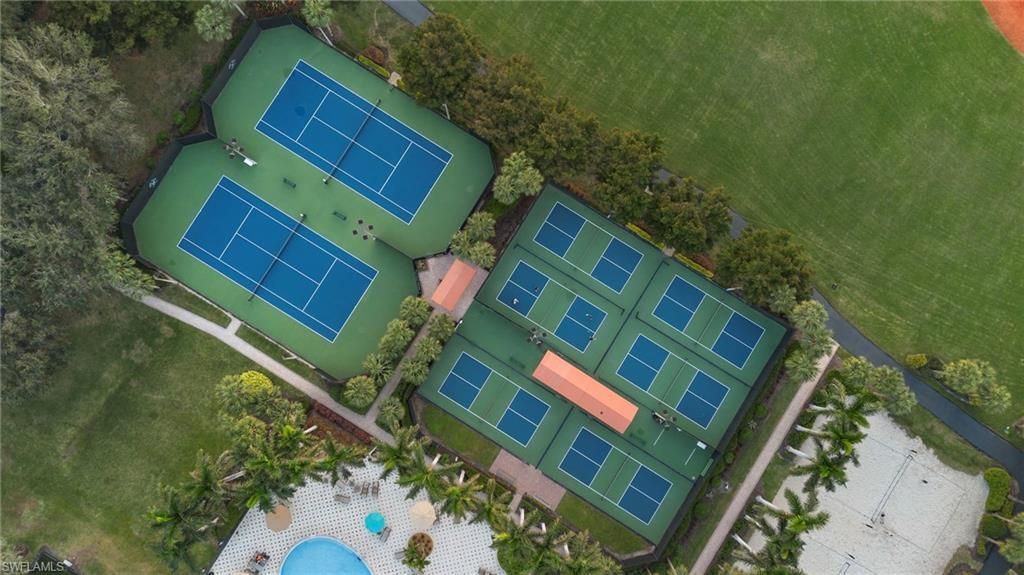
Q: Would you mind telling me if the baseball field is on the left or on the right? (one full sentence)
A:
The baseball field is on the right side of the image.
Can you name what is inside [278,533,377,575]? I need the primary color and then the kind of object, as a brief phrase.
blue swimming pool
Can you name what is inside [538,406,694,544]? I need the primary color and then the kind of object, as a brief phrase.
green sports court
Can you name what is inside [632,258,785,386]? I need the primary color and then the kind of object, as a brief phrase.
green sports court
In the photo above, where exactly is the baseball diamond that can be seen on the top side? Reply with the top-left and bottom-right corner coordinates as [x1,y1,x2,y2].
[425,0,1024,449]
